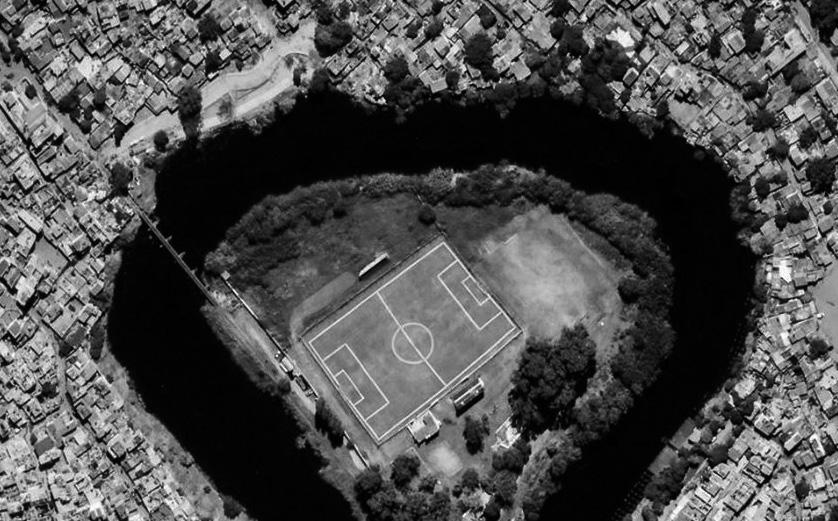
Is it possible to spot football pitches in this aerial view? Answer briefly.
Yes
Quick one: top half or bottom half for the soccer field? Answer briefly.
bottom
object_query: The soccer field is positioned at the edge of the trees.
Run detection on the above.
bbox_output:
[302,236,520,443]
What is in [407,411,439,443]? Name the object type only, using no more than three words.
building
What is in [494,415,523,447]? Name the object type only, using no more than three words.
house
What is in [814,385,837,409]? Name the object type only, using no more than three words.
house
